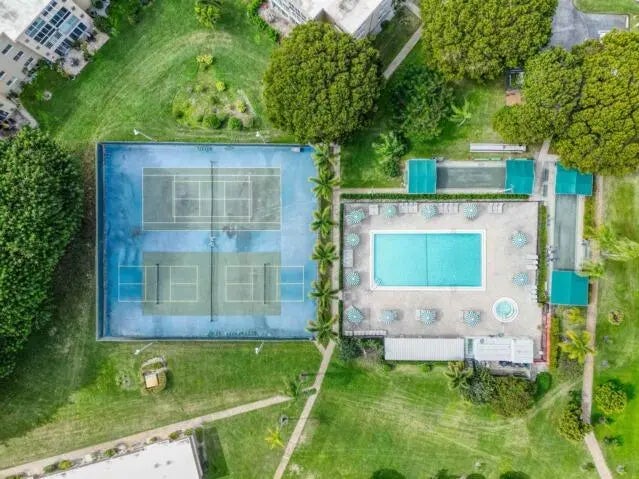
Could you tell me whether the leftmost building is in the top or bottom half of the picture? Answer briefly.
top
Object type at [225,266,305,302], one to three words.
sports court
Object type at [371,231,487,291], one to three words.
swimming pool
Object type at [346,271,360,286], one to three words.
umbrella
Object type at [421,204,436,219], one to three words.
umbrella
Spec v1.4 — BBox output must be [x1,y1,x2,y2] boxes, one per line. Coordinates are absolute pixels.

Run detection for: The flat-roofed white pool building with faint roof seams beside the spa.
[469,335,535,364]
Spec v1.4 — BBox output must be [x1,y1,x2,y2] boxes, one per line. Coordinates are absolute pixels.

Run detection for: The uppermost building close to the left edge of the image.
[0,0,94,122]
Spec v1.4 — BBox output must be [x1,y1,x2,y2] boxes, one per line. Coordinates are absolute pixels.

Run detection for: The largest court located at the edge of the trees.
[104,145,318,339]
